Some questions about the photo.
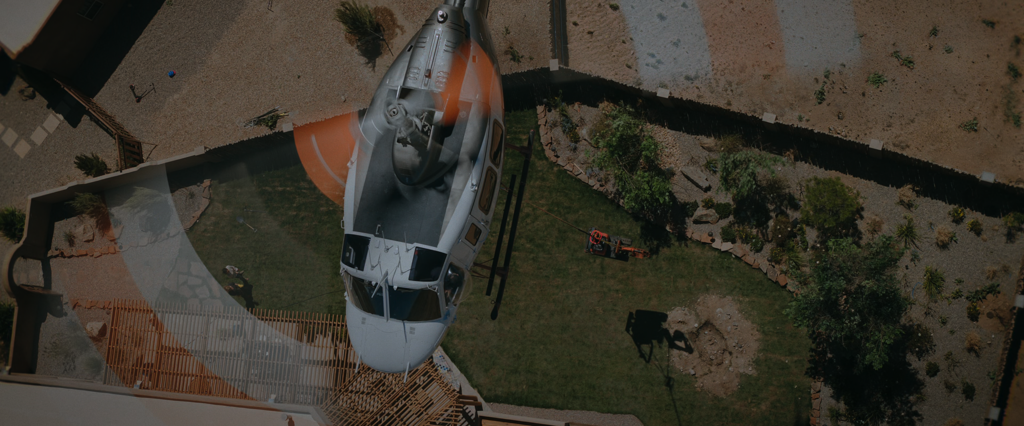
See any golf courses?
No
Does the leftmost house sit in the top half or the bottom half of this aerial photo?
top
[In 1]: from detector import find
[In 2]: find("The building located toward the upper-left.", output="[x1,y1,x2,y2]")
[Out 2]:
[0,0,136,82]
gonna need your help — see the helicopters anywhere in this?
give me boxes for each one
[0,0,755,375]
